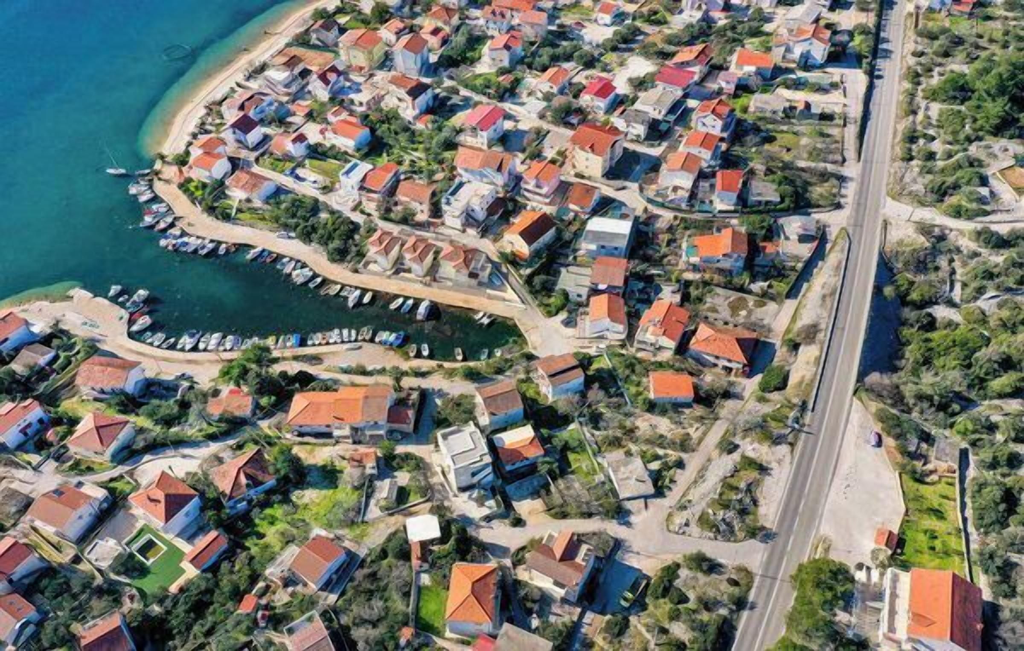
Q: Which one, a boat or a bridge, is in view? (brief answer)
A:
boat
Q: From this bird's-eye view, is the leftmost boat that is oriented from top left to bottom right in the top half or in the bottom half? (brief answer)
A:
top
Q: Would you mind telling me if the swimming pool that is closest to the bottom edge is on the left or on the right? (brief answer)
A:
left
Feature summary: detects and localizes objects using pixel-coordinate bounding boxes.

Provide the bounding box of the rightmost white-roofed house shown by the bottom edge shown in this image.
[869,563,912,651]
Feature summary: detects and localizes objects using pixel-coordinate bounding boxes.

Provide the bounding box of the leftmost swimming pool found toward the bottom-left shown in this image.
[130,533,168,566]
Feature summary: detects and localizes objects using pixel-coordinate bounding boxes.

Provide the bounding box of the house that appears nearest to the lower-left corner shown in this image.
[0,587,48,650]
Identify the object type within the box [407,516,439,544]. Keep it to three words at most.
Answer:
building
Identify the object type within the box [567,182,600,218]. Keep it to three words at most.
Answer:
house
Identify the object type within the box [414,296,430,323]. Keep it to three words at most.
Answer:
boat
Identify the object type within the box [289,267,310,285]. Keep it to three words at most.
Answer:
boat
